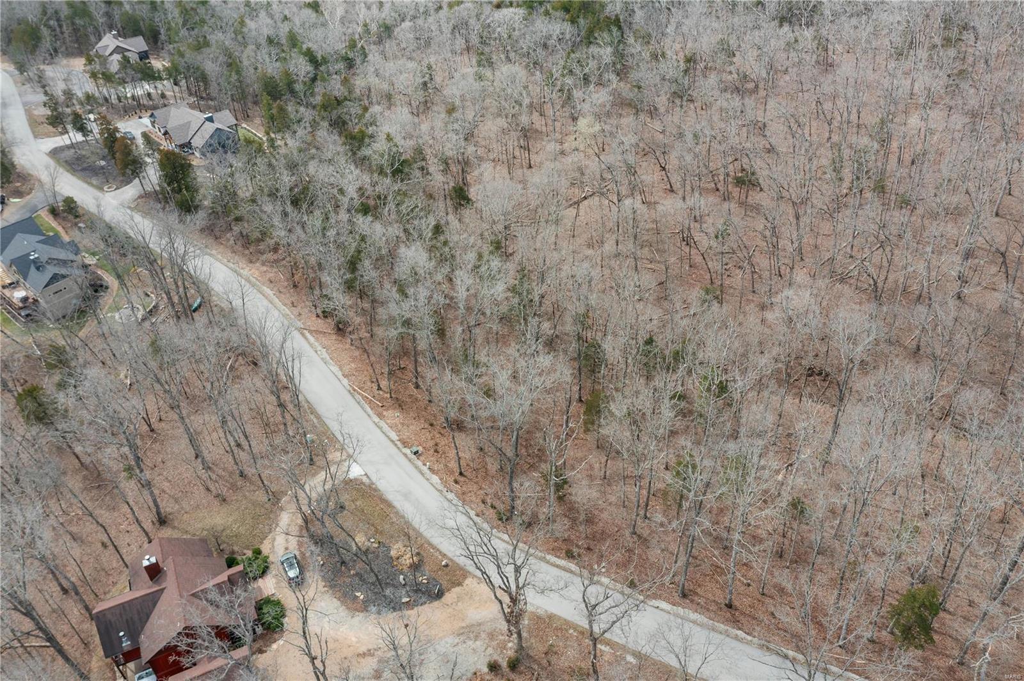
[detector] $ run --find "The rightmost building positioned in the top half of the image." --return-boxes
[147,101,245,169]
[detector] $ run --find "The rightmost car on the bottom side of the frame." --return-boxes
[277,550,307,591]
